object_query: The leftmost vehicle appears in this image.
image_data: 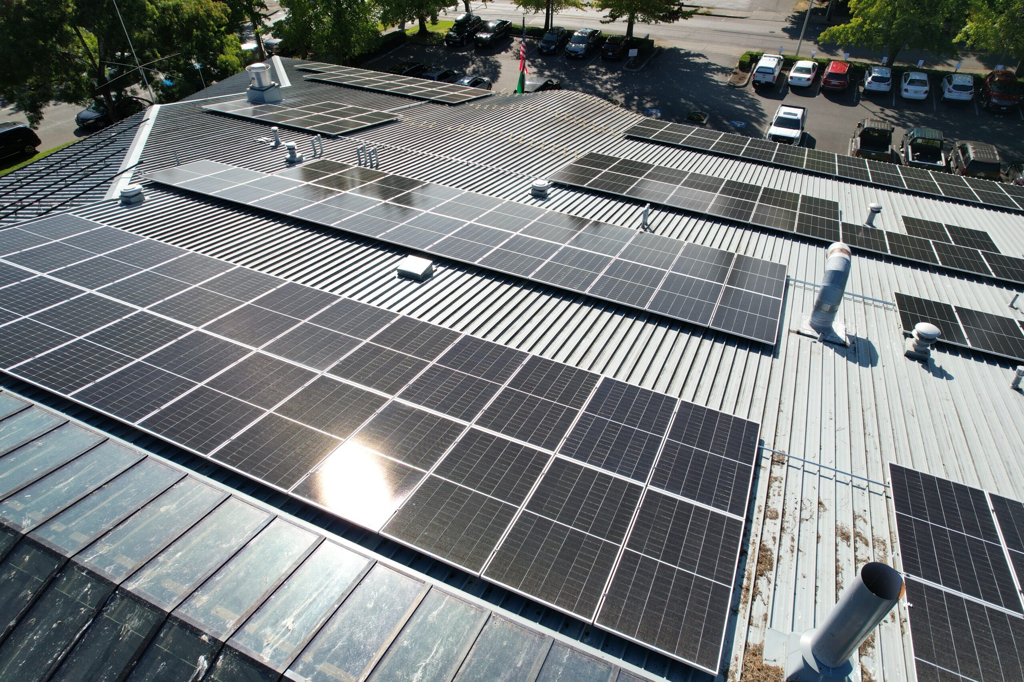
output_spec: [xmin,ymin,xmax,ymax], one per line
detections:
[0,126,38,157]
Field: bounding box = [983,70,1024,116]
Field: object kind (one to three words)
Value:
car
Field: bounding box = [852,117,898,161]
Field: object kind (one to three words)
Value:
truck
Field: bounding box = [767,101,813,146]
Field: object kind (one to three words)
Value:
truck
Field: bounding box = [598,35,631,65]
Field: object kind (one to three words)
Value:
car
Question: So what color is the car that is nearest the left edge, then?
black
